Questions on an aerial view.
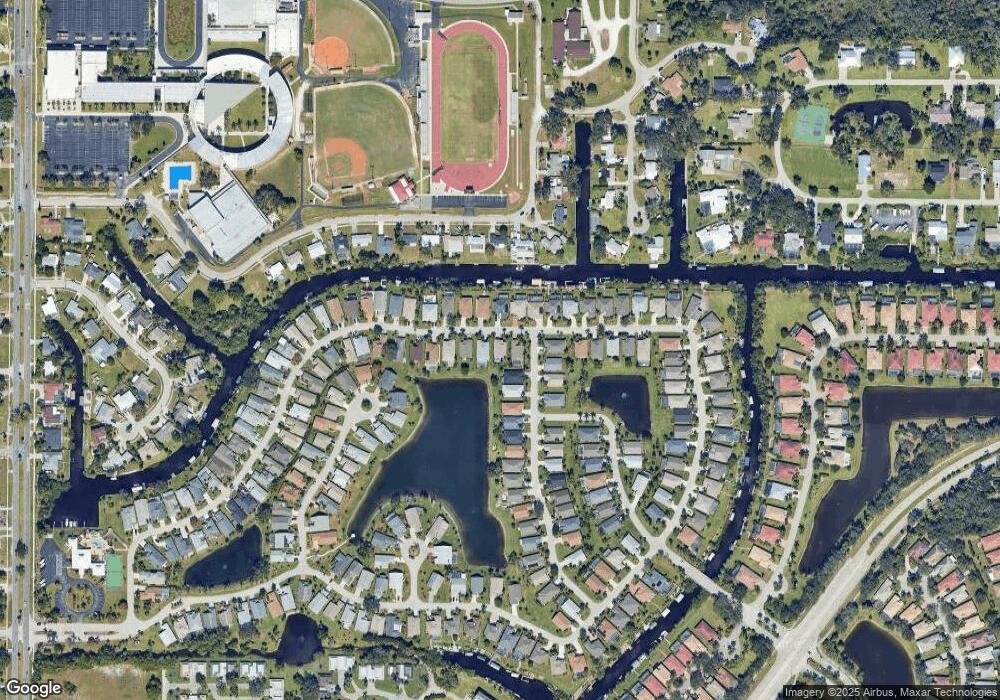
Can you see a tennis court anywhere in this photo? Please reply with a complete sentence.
Yes, you can see a tennis court in this photo.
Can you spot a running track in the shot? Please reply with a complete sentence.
Yes, a running track appears in the view.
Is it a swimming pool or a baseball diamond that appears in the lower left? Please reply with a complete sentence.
Looking in the lower left, you will find a swimming pool.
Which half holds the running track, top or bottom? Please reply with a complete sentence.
You can find the running track in the top half.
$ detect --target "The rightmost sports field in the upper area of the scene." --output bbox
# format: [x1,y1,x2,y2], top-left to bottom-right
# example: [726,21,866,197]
[441,31,497,162]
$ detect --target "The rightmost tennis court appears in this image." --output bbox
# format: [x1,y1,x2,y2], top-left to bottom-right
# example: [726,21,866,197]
[795,106,828,141]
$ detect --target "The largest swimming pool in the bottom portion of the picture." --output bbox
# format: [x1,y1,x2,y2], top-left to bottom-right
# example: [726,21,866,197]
[79,533,110,562]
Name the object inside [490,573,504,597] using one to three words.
house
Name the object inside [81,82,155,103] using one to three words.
building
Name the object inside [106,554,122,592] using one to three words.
tennis court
